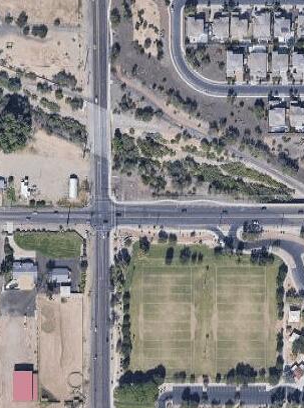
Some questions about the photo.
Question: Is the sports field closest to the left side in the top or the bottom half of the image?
bottom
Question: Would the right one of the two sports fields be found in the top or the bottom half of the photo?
bottom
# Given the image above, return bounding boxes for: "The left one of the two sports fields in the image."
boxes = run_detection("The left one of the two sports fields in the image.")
[143,265,192,374]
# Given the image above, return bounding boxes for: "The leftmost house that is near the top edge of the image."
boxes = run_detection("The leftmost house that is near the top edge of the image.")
[187,14,204,46]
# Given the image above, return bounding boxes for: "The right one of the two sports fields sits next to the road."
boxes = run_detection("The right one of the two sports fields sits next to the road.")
[216,265,265,374]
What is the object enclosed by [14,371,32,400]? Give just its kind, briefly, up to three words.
barn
